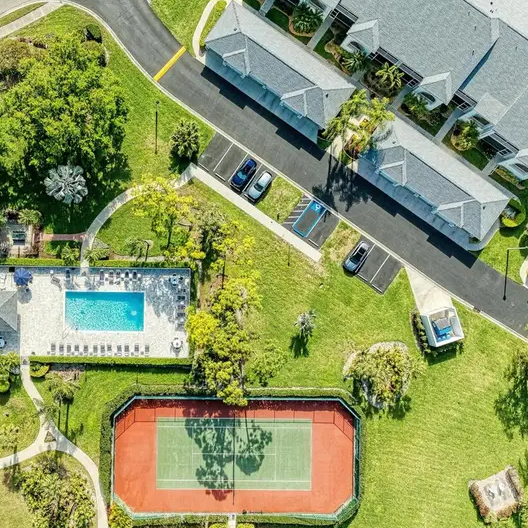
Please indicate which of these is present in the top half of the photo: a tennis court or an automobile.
automobile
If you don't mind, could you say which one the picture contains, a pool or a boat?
pool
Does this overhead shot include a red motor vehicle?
No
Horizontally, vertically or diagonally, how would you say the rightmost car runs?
diagonally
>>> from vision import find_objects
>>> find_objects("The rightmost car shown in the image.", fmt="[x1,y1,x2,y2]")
[344,242,369,273]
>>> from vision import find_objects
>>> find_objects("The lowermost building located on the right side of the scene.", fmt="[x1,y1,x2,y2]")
[362,114,510,242]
